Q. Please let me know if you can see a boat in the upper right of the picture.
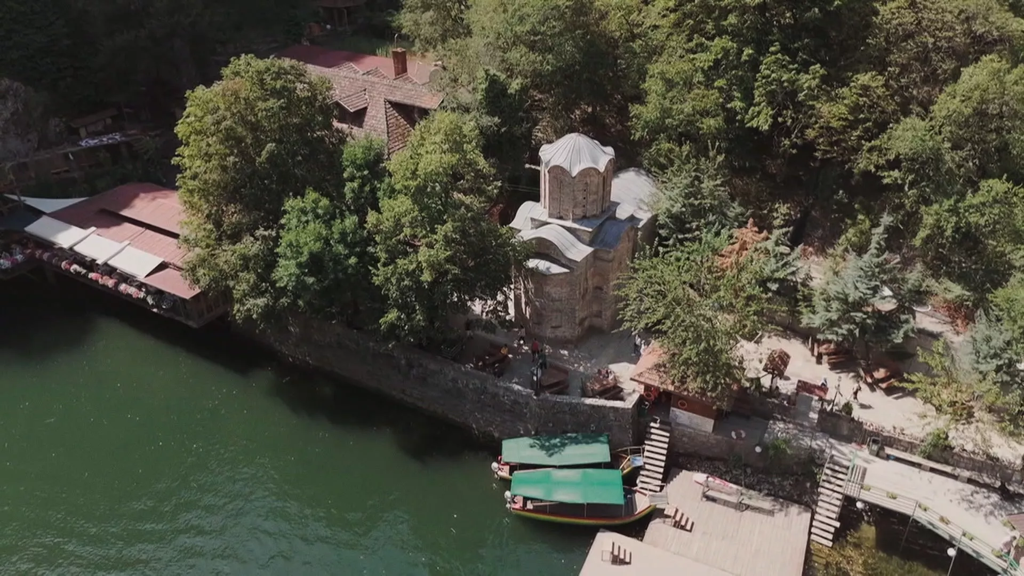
No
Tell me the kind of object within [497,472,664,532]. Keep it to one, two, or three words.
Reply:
boat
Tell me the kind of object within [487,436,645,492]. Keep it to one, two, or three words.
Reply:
boat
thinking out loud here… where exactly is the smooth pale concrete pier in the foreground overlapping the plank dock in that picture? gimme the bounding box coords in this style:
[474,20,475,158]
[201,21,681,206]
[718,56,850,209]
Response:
[581,528,753,576]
